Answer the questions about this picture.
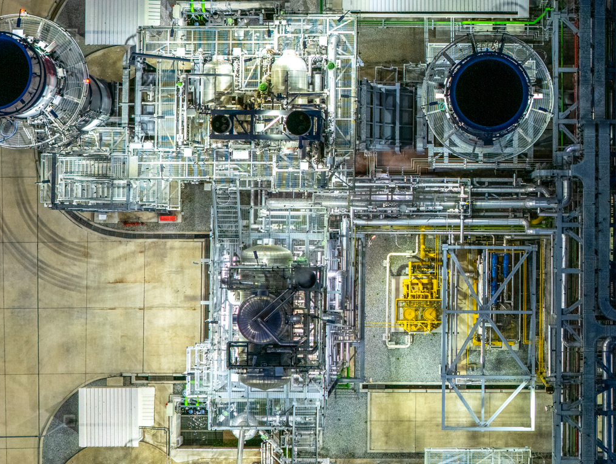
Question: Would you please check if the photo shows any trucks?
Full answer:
No, this view has no truck in it.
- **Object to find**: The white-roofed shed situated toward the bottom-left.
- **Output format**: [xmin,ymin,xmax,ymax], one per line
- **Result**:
[79,385,159,446]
